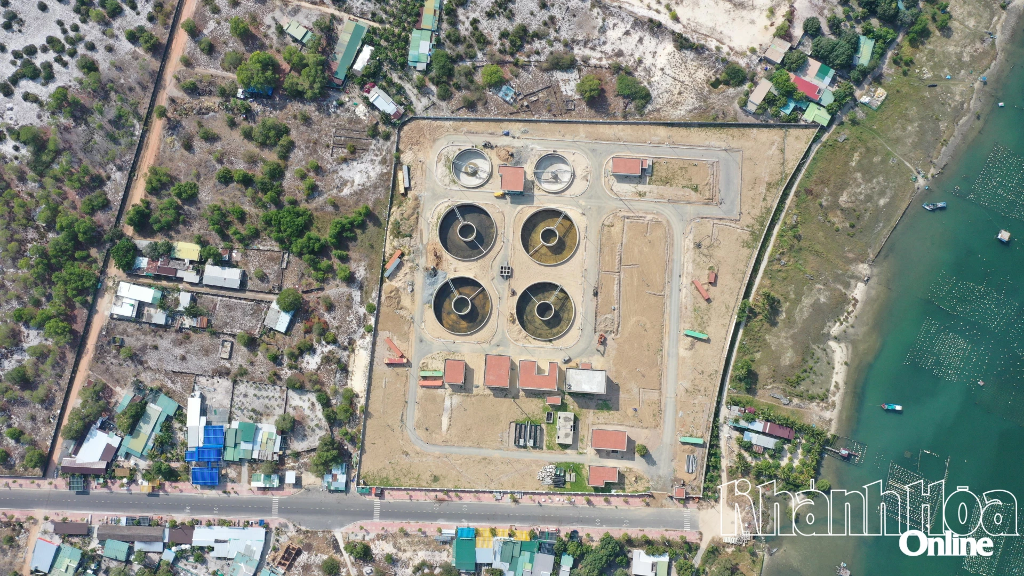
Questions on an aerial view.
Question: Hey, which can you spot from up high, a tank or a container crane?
tank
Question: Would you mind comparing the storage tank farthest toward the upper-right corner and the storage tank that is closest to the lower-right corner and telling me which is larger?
the storage tank that is closest to the lower-right corner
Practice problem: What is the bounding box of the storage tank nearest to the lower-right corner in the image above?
[516,282,575,340]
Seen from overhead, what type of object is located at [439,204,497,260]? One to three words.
storage tank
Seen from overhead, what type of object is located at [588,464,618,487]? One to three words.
building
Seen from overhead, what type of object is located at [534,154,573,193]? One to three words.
storage tank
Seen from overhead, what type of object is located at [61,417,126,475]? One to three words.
house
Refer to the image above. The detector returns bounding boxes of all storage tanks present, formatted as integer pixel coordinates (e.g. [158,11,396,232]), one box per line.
[452,149,491,188]
[534,154,573,193]
[439,204,497,260]
[521,208,578,266]
[432,276,491,335]
[516,282,575,340]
